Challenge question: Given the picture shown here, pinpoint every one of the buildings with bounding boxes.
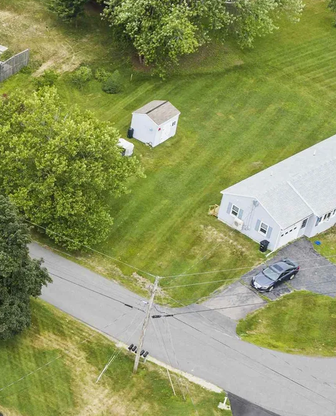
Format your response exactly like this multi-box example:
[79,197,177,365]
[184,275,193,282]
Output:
[203,136,336,257]
[123,100,176,141]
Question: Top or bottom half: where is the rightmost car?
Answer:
bottom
